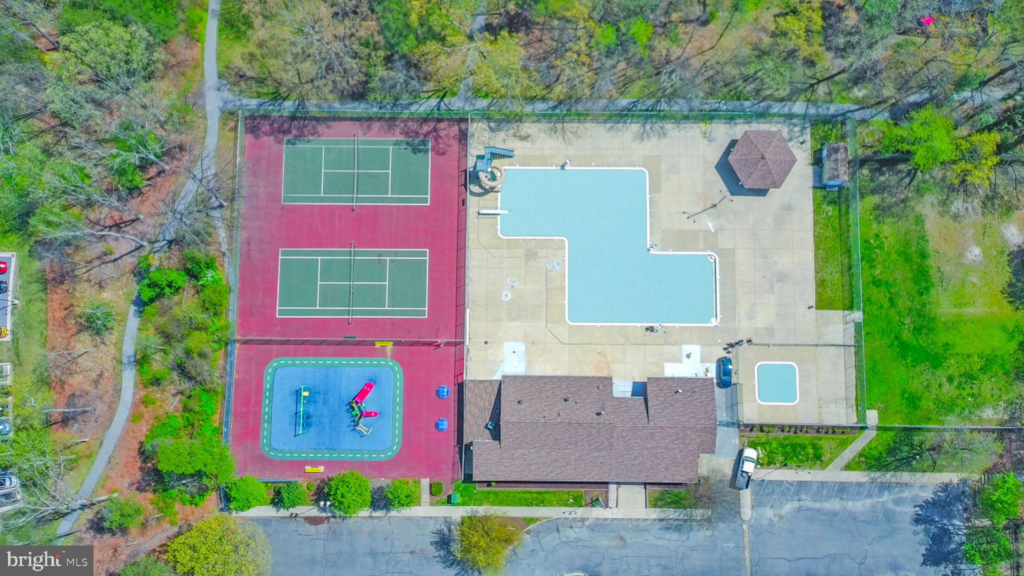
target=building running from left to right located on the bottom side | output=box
[463,375,717,484]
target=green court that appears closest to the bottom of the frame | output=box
[277,248,429,318]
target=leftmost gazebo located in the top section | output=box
[728,130,797,188]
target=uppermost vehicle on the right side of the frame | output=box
[716,356,732,389]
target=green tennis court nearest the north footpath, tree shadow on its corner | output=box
[282,138,431,205]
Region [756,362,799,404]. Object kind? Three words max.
swimming pool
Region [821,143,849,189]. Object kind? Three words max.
shed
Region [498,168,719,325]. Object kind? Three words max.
swimming pool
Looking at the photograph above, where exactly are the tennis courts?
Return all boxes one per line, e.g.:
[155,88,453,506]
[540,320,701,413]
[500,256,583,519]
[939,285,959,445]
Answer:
[277,248,429,318]
[282,138,431,205]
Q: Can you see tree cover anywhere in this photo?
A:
Yes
